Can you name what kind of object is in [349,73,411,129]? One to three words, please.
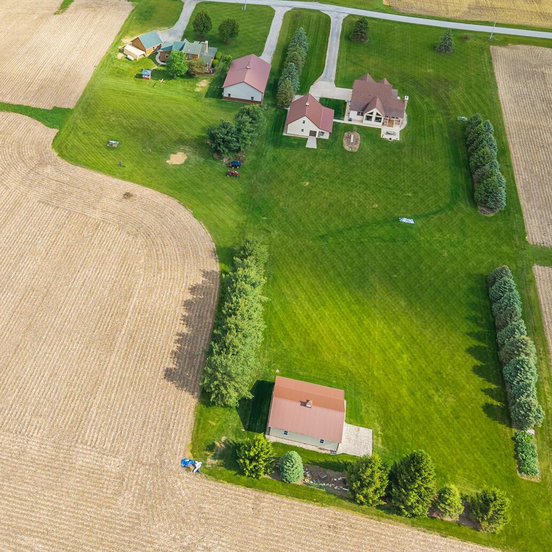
house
